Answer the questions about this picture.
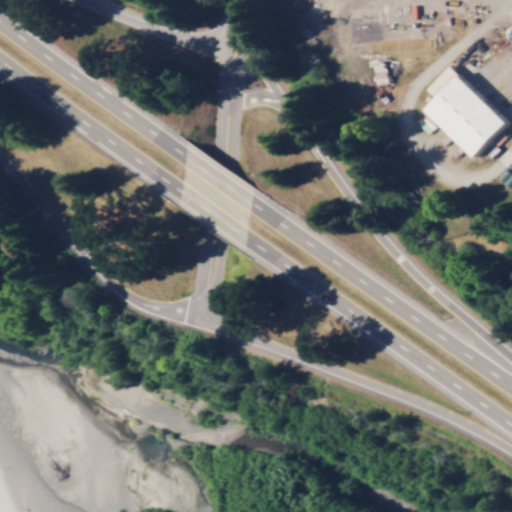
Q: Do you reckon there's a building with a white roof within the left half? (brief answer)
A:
No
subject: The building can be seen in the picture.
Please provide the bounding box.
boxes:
[424,67,507,158]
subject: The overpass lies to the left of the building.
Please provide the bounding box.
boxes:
[170,130,266,261]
